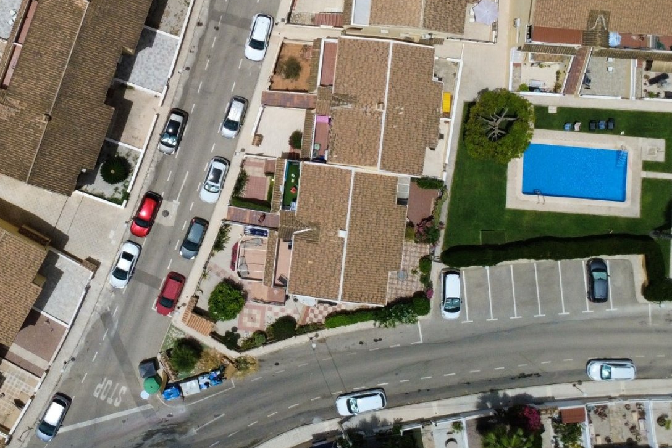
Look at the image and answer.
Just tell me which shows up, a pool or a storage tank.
pool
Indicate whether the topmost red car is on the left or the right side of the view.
left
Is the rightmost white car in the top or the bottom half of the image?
bottom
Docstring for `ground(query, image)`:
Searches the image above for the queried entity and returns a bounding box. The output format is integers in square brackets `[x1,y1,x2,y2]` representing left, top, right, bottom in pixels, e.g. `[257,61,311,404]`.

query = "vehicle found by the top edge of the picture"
[244,13,272,61]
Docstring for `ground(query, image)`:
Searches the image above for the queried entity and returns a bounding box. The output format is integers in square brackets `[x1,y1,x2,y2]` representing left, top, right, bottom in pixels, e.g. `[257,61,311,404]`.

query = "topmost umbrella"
[473,0,497,27]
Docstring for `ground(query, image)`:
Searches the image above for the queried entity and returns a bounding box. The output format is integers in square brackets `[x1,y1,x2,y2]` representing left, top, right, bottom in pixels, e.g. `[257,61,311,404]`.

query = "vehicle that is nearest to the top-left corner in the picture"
[159,108,188,154]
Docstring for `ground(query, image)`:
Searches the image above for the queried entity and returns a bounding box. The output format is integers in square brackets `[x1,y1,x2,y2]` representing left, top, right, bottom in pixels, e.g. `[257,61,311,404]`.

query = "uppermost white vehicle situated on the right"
[438,269,465,318]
